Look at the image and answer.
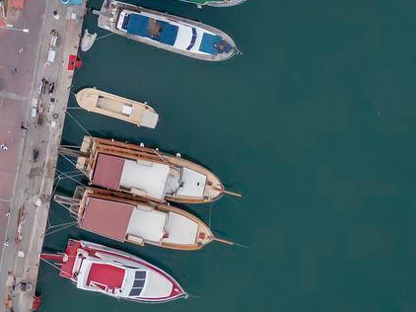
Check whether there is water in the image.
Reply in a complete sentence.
Yes, water shows up in the scene.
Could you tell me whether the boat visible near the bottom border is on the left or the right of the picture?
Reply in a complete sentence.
The boat visible near the bottom border is on the left side of the image.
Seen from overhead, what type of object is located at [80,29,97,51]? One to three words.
boat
